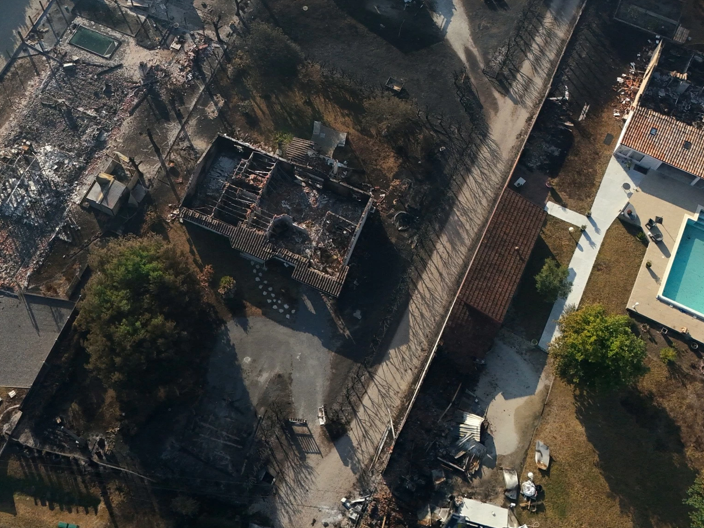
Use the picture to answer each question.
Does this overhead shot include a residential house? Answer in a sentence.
Yes, you can see a residential house in this photo.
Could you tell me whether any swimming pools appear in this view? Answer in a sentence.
Yes, there is a swimming pool in the image.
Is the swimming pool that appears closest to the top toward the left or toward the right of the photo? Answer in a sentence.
You can find the swimming pool that appears closest to the top on the left side of the picture.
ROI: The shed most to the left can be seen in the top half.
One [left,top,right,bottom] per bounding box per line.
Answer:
[87,154,142,218]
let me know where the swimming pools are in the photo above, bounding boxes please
[657,205,704,315]
[65,20,126,64]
